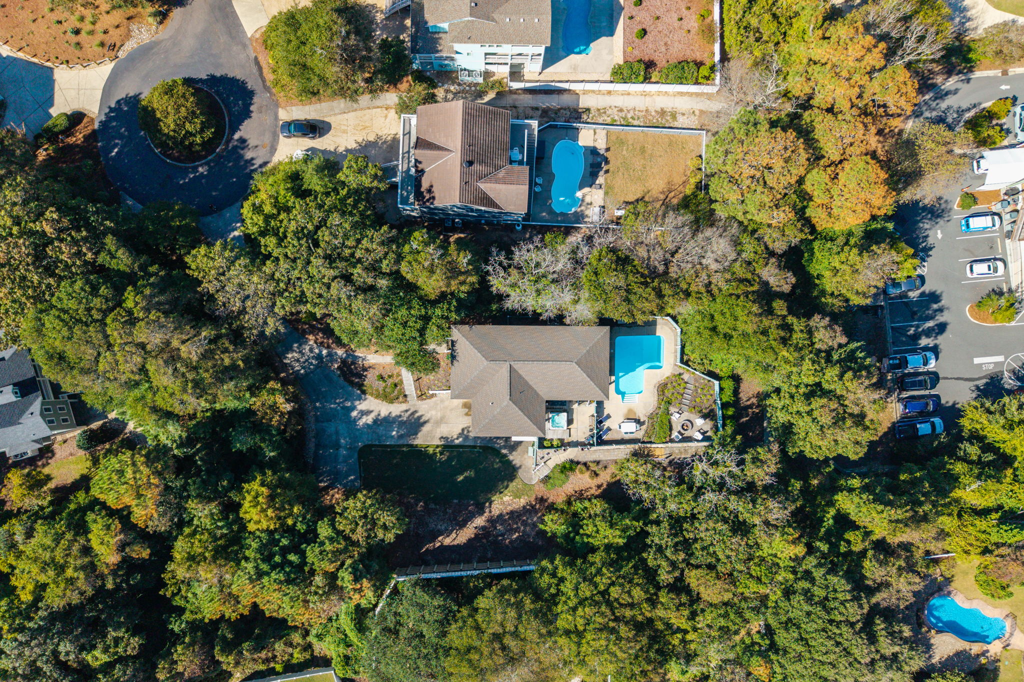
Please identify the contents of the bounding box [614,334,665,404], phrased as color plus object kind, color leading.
blue swimming pool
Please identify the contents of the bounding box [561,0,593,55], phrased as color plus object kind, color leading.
blue swimming pool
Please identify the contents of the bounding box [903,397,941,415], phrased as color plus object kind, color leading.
blue car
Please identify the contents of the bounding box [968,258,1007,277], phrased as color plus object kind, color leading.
white car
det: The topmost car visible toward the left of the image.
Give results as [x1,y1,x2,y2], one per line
[279,118,319,138]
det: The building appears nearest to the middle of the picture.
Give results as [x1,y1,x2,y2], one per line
[448,325,610,441]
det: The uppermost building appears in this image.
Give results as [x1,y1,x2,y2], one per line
[410,0,551,72]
